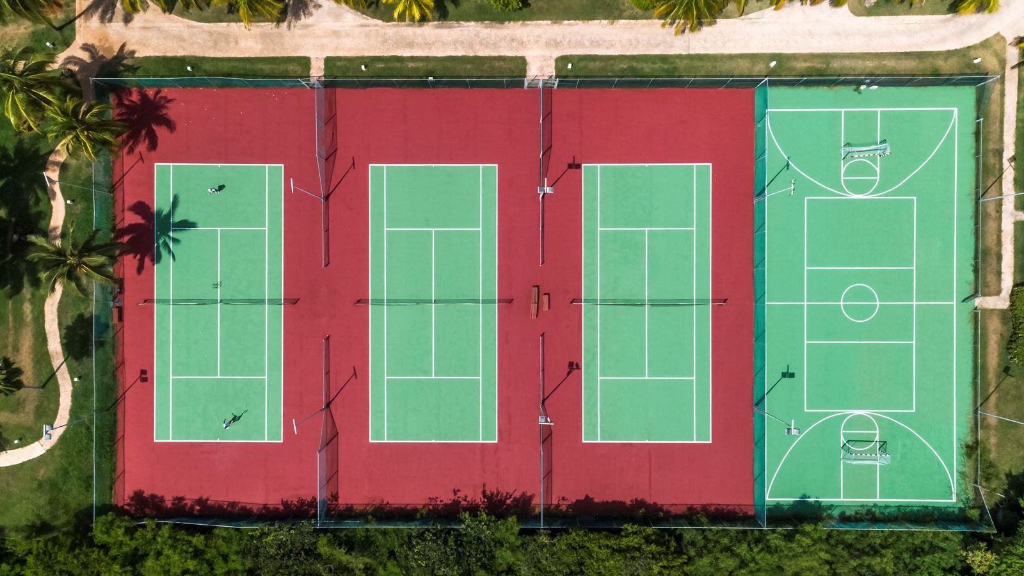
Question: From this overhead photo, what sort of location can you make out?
sports ground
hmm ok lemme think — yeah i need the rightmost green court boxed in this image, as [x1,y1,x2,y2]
[767,86,976,519]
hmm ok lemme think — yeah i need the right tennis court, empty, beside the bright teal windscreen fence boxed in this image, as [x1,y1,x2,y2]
[541,88,755,518]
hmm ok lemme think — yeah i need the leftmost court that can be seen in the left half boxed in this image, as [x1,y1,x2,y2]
[114,88,325,518]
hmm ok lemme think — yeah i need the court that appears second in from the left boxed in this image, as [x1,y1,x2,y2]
[325,88,541,517]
